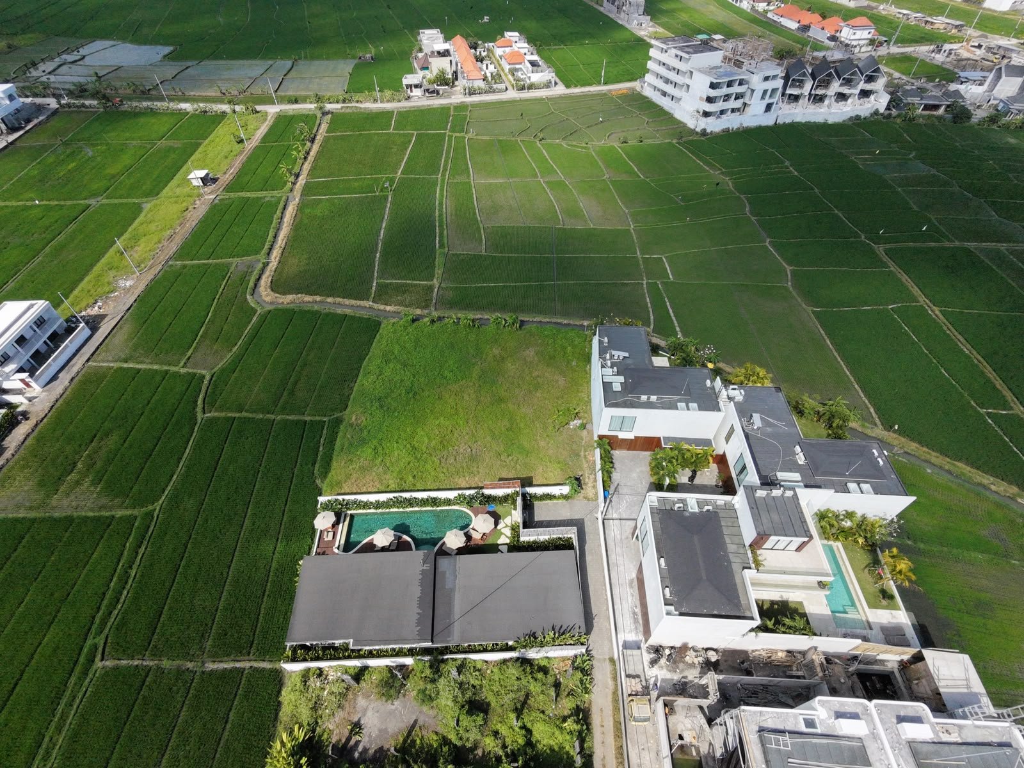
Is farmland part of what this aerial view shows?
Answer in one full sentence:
Yes, the picture does contain farmland.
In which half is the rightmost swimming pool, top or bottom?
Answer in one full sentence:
It is in the bottom half that the rightmost swimming pool appears.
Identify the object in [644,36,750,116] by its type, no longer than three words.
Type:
building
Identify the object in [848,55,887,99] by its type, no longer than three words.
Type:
house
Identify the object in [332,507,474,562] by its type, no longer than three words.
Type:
swimming pool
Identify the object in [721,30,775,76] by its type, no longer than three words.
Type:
building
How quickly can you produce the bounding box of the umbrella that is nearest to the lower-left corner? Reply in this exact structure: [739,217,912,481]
[315,511,337,531]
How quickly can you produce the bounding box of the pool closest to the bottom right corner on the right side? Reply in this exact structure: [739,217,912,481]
[821,539,876,631]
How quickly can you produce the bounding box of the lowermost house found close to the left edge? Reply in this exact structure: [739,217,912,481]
[0,301,72,407]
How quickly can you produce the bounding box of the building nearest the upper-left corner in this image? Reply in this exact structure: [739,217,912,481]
[0,84,33,133]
